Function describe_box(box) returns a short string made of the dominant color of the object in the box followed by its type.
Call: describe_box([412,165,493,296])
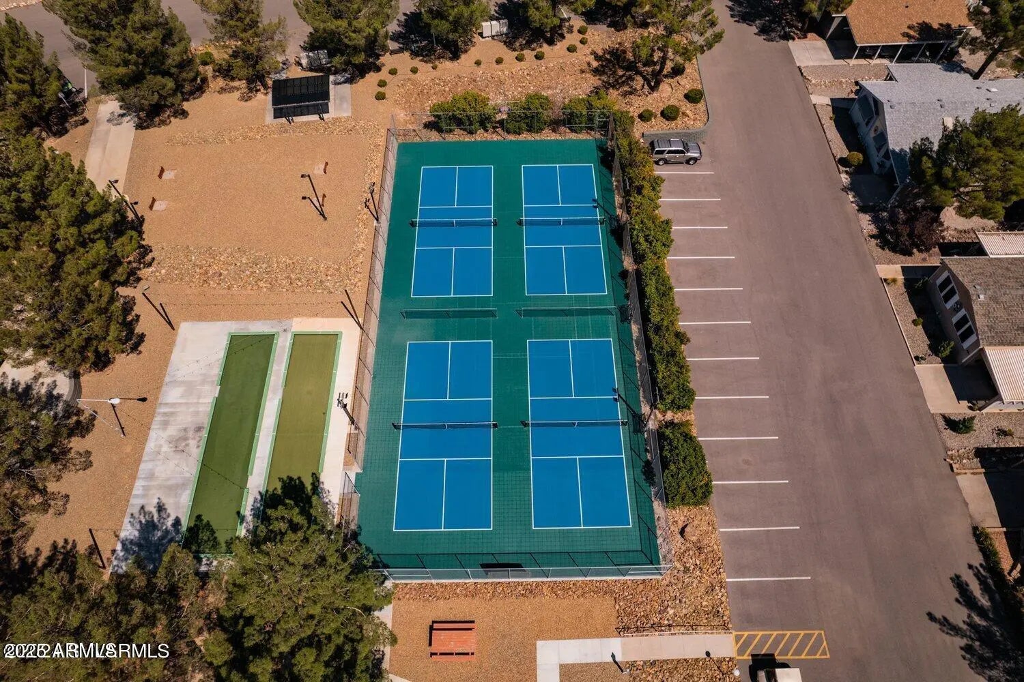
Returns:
blue sports court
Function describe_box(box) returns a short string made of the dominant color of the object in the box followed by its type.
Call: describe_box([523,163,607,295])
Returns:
blue sports court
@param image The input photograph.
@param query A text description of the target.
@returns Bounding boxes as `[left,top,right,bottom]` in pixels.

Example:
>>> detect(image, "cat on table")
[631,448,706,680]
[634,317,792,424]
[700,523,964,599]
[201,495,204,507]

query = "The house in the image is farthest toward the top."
[826,0,975,64]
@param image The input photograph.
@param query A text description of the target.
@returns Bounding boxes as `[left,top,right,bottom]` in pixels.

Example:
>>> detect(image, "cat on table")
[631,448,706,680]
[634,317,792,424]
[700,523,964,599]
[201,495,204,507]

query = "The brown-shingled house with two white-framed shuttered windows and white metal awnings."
[928,231,1024,414]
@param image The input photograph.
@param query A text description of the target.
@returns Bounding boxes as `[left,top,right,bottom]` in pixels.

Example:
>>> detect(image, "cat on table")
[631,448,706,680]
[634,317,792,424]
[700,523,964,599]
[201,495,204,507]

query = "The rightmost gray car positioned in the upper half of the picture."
[646,137,702,166]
